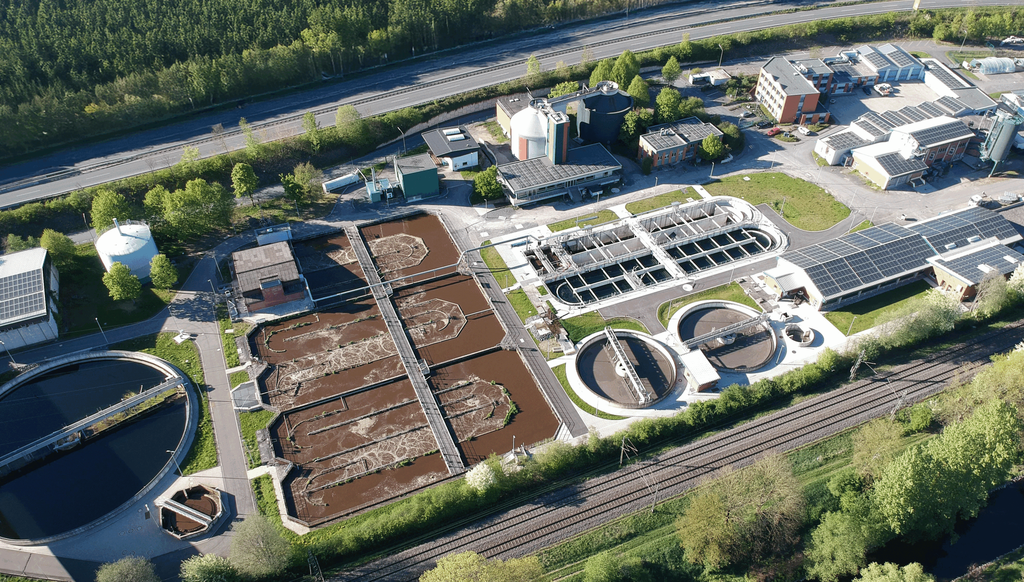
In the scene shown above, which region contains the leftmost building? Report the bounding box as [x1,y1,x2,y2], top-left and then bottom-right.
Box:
[0,250,56,350]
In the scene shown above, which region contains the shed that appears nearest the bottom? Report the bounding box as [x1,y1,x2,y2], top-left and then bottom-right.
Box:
[678,349,721,394]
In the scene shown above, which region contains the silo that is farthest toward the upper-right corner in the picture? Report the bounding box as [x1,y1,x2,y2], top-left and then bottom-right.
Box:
[978,111,1024,180]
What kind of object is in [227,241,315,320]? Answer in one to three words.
building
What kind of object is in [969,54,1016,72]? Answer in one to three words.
greenhouse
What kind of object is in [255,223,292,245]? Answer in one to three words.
building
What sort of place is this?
industrial area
